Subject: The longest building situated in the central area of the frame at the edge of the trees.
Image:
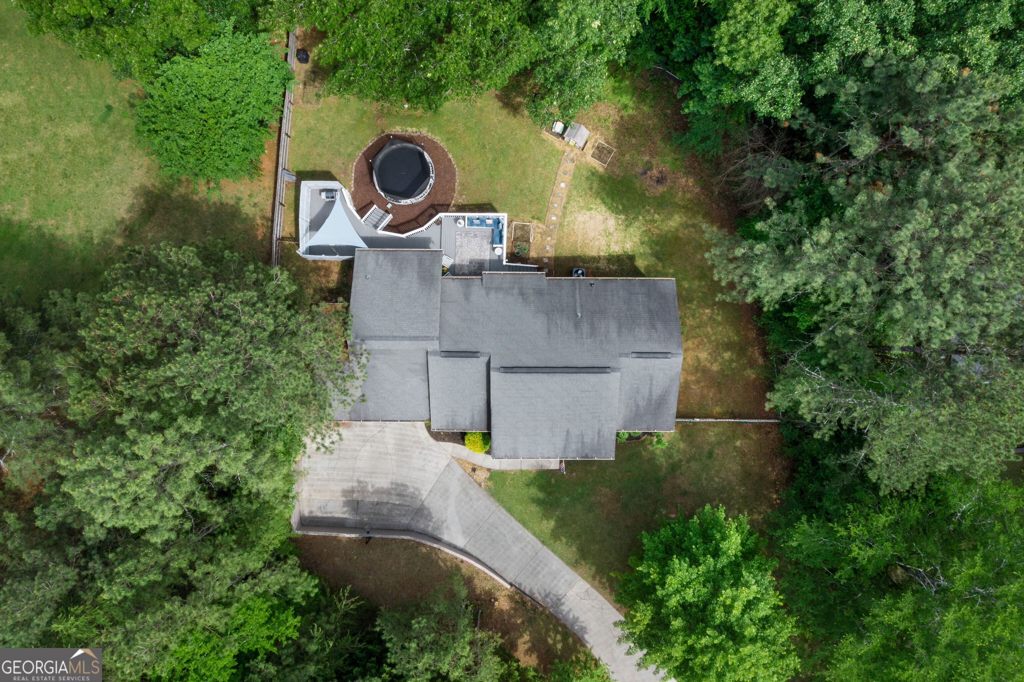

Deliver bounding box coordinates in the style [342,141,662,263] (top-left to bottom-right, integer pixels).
[318,247,683,461]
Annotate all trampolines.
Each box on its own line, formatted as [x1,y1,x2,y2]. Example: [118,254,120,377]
[367,136,436,207]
